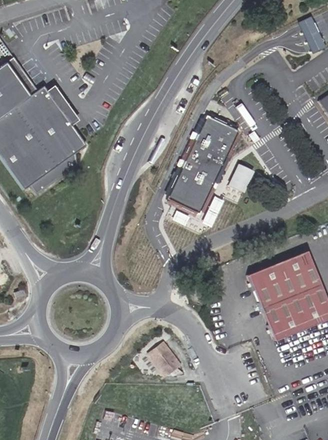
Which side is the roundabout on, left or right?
left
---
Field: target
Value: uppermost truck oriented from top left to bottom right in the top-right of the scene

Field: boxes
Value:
[234,102,258,128]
